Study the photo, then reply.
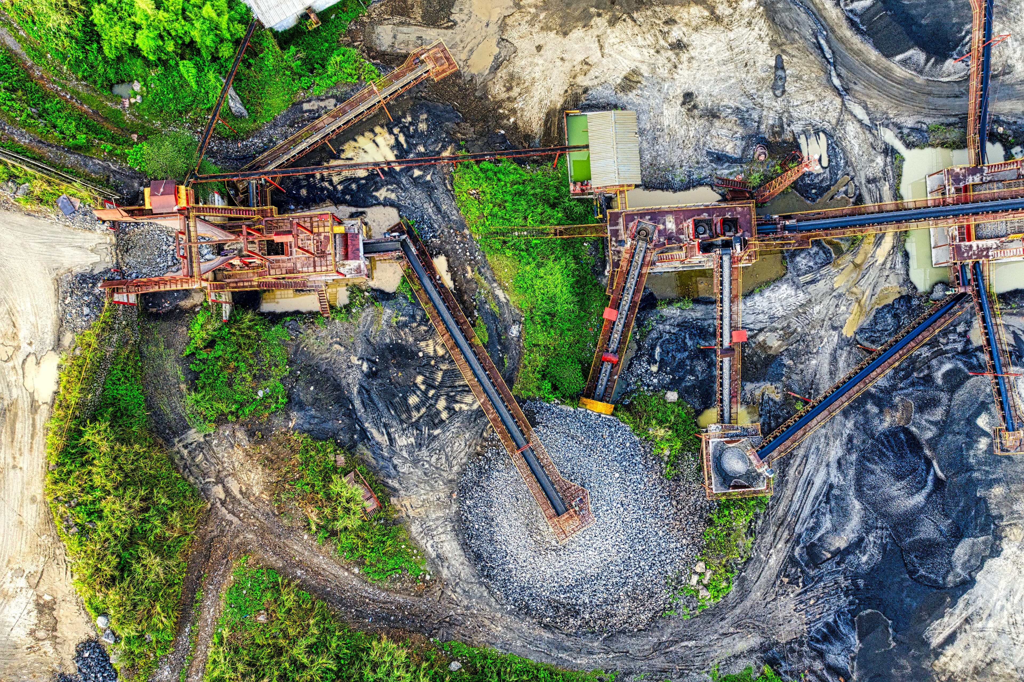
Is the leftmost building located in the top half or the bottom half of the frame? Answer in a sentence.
The top half of the photo is where the leftmost building is.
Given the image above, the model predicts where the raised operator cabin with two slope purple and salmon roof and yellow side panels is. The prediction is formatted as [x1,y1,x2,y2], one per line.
[144,180,213,217]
